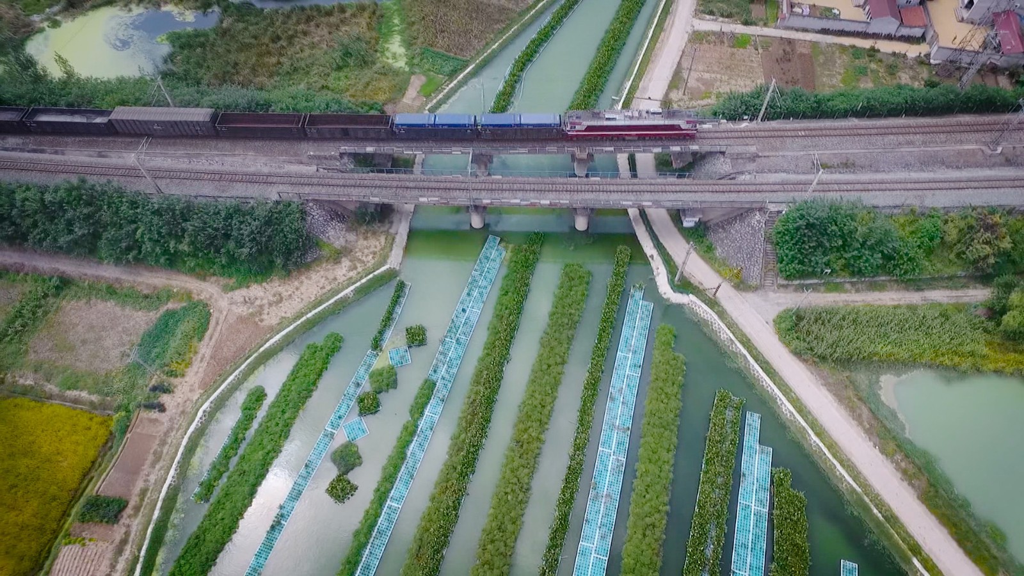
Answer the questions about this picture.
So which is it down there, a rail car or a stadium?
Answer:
rail car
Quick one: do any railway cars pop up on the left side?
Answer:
Yes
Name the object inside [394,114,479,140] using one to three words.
rail car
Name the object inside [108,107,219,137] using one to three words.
rail car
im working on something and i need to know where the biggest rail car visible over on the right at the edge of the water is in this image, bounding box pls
[562,109,698,141]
